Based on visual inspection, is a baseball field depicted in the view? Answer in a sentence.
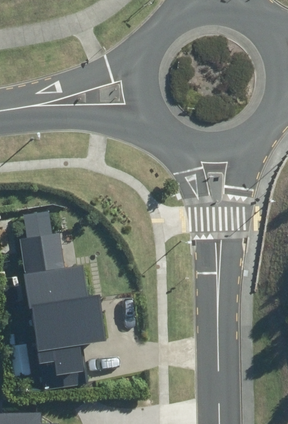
No, no baseball field is visible in the scene.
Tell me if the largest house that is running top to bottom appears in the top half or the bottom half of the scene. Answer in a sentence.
Seen from above, the largest house that is running top to bottom lies in the bottom half of the view.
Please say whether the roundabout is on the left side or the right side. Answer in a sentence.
The roundabout is on the right side of the image.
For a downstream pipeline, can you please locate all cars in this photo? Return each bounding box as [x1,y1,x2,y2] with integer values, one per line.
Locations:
[88,358,120,372]
[124,300,136,329]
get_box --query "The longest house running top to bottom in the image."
[20,212,106,390]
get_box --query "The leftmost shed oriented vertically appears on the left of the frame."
[14,344,31,376]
